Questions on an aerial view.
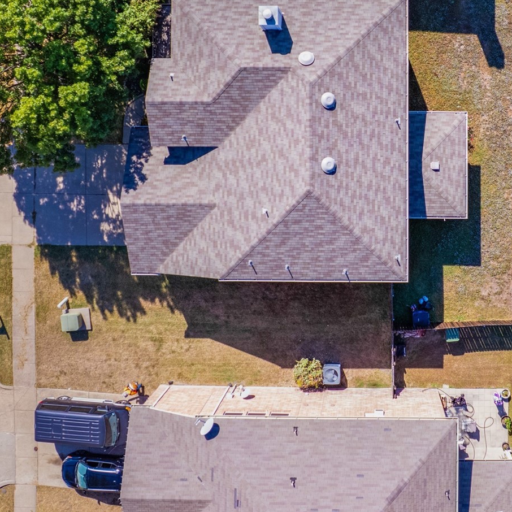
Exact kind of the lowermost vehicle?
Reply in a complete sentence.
I'd identify the lowermost vehicle as an automobile.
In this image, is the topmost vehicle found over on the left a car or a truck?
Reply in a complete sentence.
Looking closely, the topmost vehicle found over on the left is a car.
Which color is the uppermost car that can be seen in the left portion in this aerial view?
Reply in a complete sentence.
The color of the uppermost car that can be seen in the left portion is blue.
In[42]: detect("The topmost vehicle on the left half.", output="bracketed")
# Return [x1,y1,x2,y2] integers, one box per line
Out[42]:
[40,397,132,446]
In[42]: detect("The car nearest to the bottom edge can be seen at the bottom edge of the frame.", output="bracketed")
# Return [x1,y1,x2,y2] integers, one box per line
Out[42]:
[64,450,126,498]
